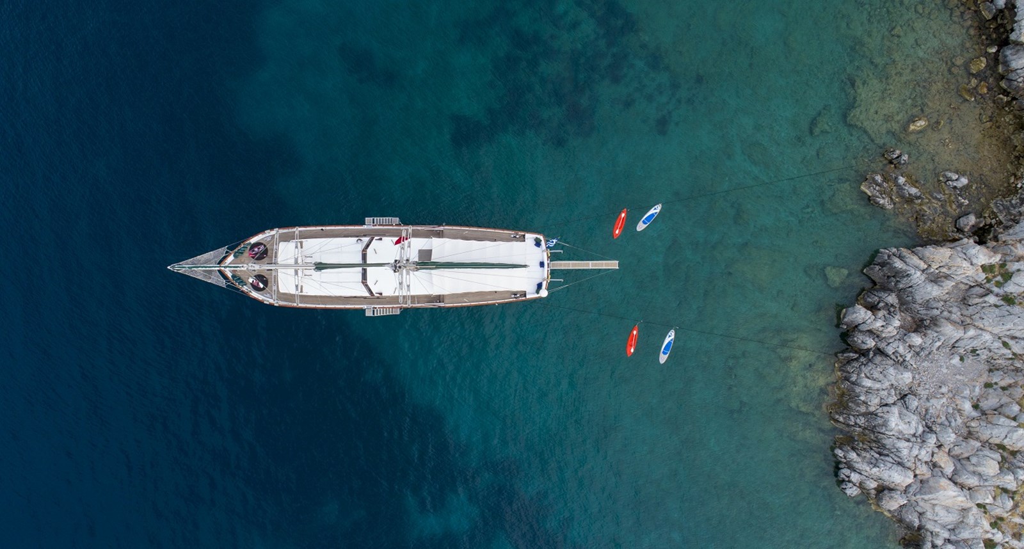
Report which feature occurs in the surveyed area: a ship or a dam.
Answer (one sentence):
Visible in the photo is a ship.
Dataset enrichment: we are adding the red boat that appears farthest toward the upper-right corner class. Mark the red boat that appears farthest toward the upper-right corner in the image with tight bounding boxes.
[613,208,627,239]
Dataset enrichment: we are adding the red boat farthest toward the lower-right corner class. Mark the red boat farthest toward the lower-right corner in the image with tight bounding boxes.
[627,325,639,357]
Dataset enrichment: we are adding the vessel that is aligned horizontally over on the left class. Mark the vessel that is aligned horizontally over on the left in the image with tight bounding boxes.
[169,217,619,316]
